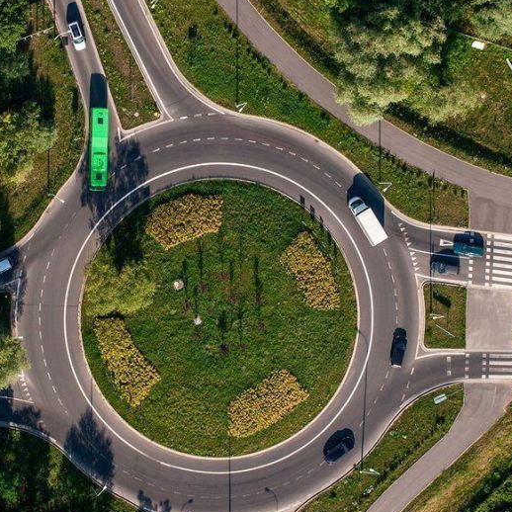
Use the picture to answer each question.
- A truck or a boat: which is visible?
truck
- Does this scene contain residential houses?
No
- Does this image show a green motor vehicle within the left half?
Yes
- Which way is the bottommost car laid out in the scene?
at an angle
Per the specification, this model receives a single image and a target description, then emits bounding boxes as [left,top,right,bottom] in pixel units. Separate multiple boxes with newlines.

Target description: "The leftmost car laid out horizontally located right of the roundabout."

[430,260,460,275]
